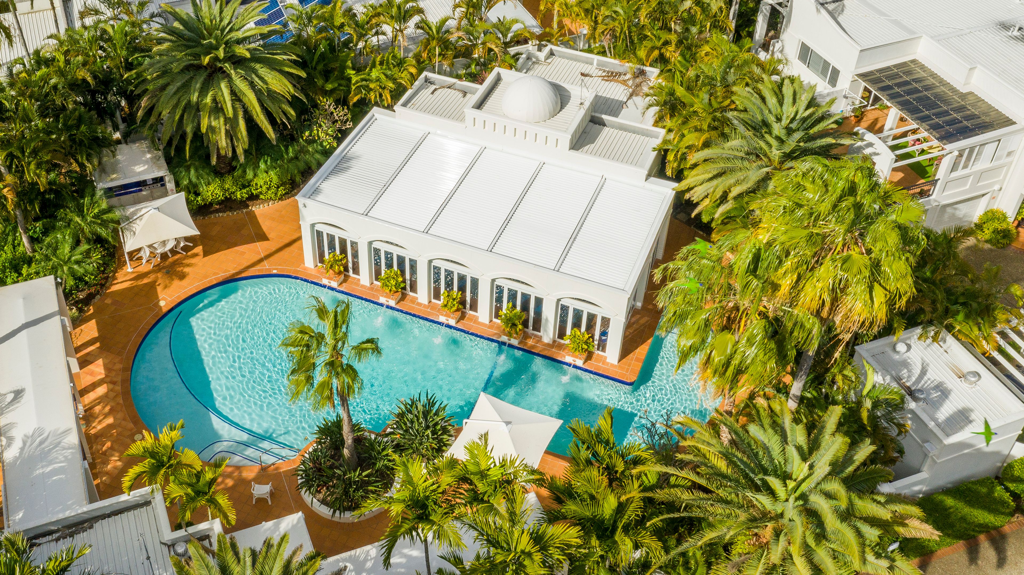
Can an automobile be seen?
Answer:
No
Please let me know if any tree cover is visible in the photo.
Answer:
Yes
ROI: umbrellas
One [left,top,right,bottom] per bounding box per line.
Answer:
[111,192,200,273]
[445,392,563,491]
